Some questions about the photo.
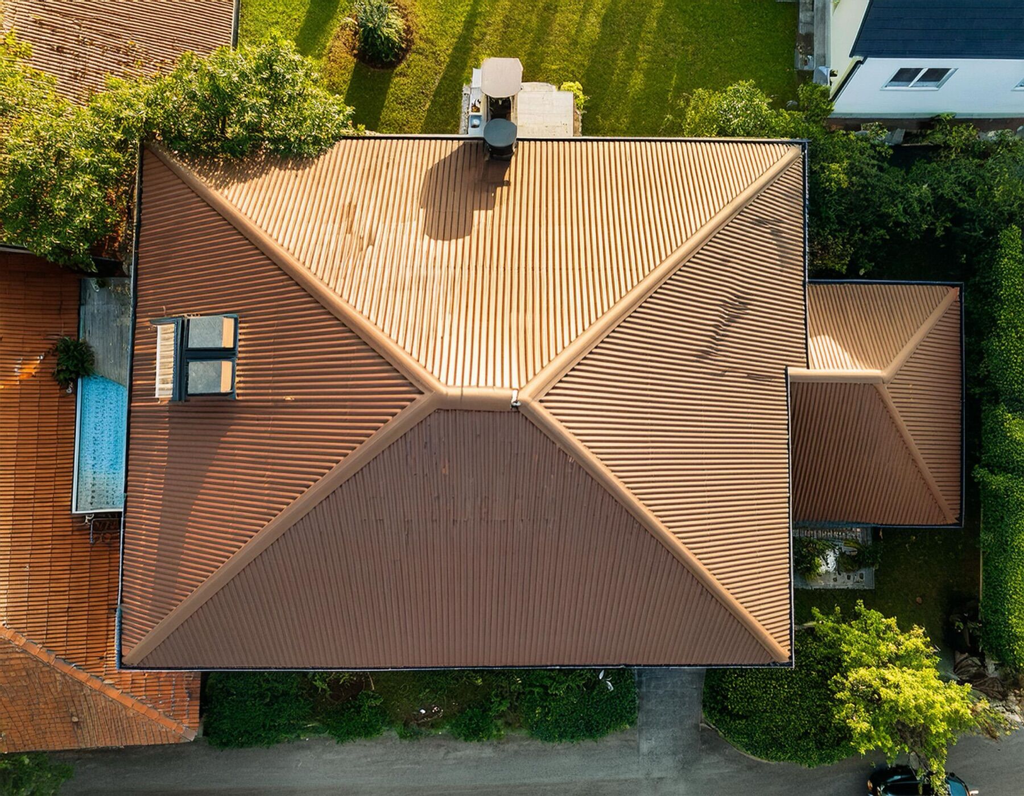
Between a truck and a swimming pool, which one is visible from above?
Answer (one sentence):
It is a swimming pool that can be seen here.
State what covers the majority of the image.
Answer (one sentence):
For the most part, this view shows buildings.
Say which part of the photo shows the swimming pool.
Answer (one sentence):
The swimming pool is in the left part of the image.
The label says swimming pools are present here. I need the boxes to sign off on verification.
[79,378,125,515]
